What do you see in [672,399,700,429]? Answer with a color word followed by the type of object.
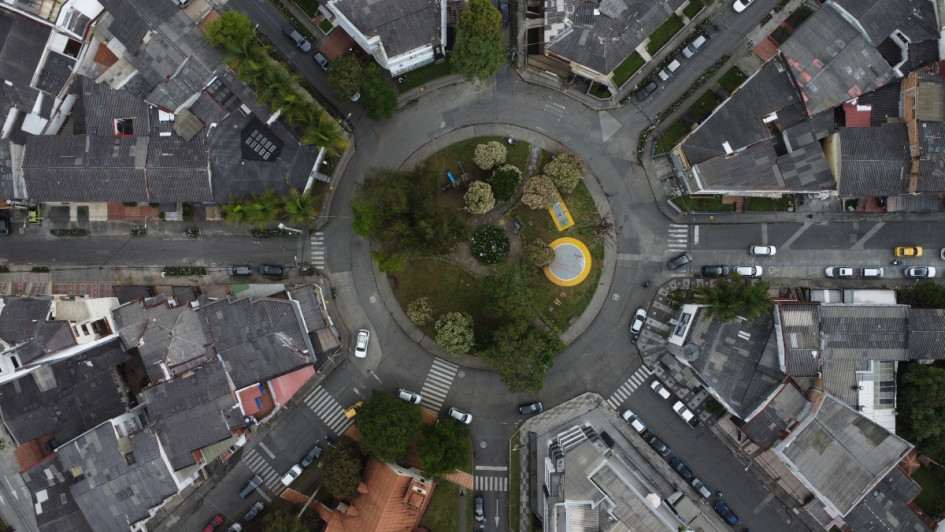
white truck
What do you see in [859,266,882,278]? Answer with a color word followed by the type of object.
white vehicle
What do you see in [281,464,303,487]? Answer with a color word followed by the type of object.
white car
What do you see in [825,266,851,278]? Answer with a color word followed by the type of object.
white vehicle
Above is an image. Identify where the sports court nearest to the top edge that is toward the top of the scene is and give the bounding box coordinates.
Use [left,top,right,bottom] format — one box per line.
[545,190,575,231]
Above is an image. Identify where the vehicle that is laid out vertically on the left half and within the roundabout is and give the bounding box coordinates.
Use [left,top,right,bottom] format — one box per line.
[355,330,370,357]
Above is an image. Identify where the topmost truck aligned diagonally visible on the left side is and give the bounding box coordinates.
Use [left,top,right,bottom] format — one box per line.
[282,23,311,54]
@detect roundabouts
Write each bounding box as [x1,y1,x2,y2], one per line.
[302,55,686,449]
